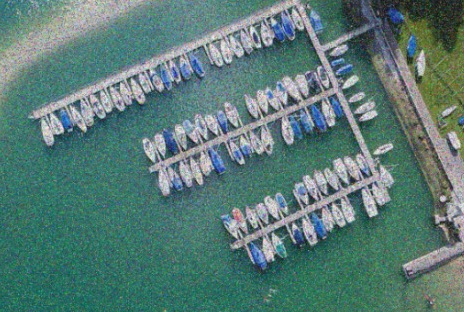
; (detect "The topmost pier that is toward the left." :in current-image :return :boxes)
[31,0,299,126]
